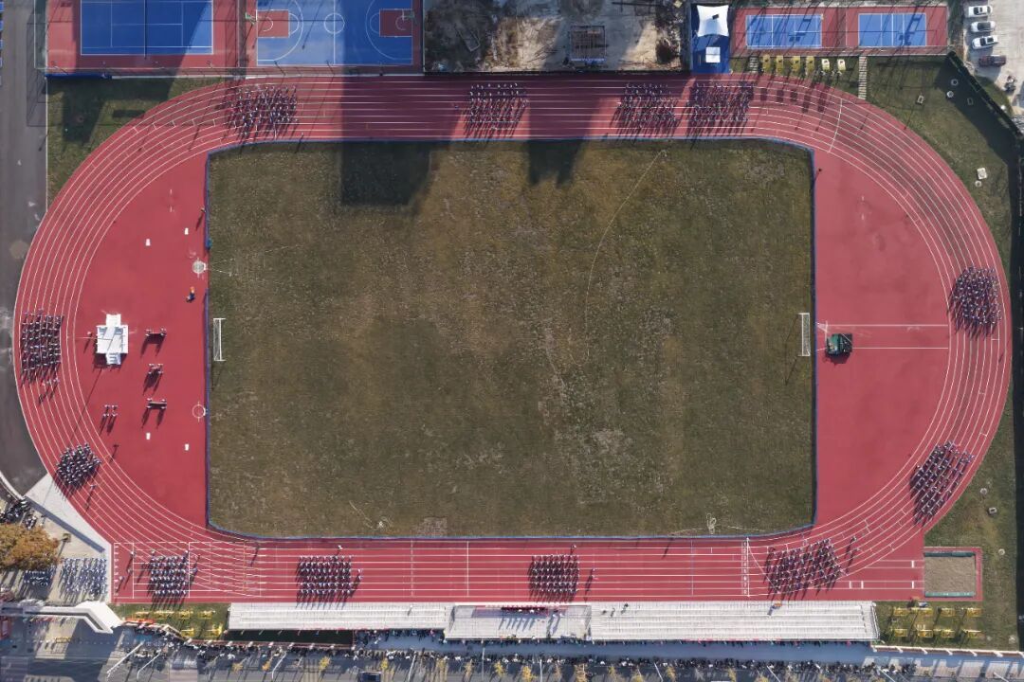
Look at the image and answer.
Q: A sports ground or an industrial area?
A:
sports ground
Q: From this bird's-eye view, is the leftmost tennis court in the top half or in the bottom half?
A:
top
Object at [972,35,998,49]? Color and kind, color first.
white car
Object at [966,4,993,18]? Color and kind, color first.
white car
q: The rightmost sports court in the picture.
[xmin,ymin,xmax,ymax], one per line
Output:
[846,4,948,54]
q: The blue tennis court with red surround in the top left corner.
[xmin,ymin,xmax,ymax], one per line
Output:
[47,0,238,76]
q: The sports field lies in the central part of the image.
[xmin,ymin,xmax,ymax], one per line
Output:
[207,142,814,538]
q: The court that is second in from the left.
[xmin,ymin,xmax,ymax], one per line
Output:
[246,0,422,76]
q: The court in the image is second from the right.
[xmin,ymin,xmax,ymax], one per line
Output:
[733,4,846,54]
